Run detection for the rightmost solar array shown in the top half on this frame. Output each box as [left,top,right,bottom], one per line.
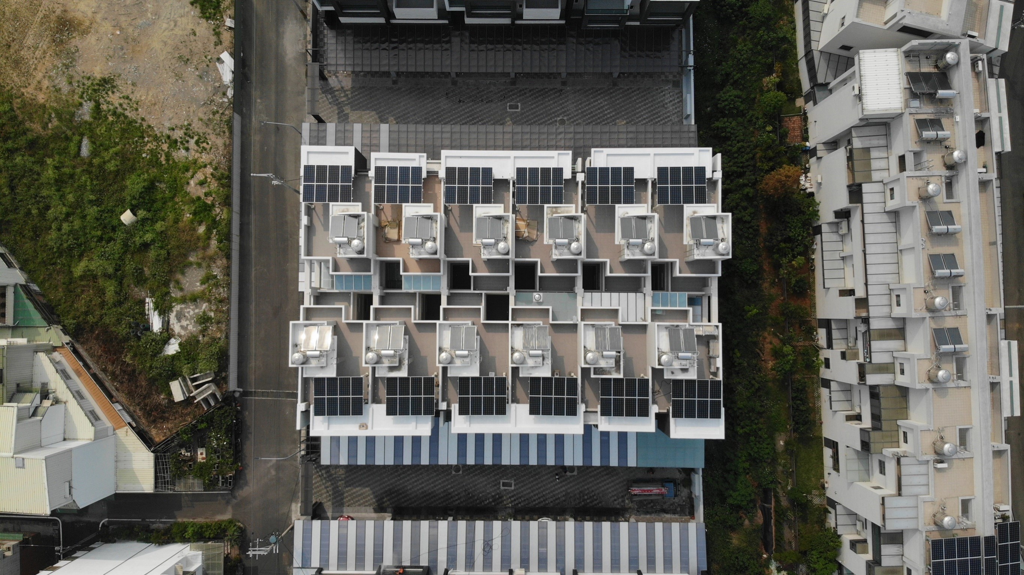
[652,167,706,208]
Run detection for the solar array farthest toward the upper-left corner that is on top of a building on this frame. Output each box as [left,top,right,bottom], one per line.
[303,165,357,206]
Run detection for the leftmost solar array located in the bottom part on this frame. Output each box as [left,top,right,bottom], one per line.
[314,371,369,416]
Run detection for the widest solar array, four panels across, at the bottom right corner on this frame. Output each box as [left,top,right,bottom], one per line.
[919,535,988,575]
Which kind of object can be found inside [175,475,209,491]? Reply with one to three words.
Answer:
shed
